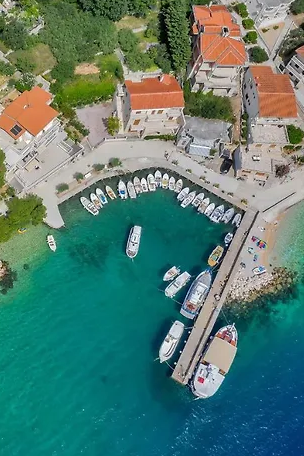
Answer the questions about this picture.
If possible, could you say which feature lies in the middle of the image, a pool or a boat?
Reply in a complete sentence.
The feature located in the middle of the image is a boat.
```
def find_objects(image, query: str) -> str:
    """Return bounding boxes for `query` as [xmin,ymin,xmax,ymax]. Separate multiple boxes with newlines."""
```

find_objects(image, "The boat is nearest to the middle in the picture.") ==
[128,223,142,260]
